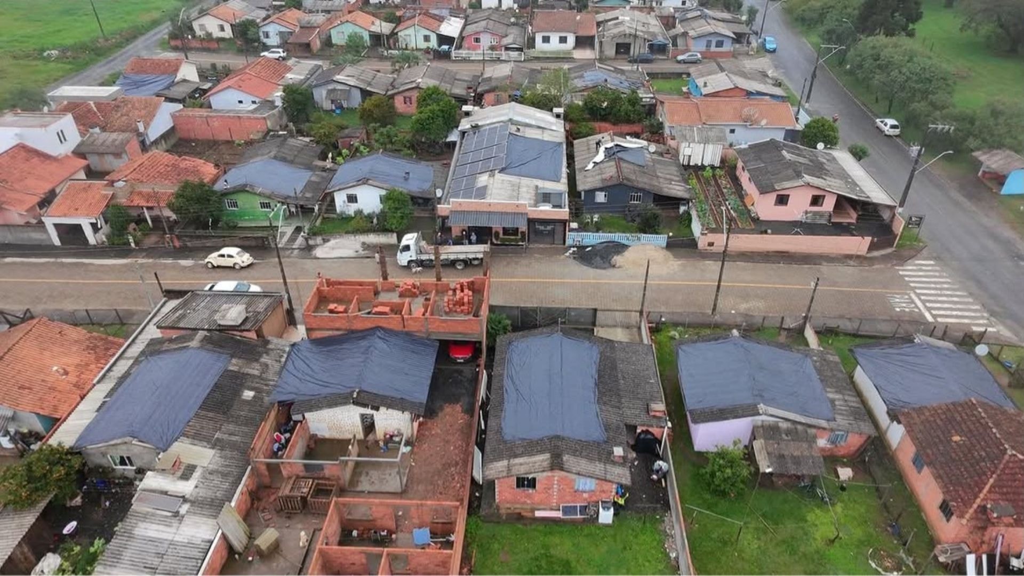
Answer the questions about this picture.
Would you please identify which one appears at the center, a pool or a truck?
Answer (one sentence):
What appears at the center is a truck.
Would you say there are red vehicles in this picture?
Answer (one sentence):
Yes, the image includes a red vehicle.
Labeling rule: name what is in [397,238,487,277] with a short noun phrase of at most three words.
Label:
truck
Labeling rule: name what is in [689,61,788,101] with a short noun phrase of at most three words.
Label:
house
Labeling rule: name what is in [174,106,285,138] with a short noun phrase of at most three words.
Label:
building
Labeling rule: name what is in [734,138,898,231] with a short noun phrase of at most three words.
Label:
house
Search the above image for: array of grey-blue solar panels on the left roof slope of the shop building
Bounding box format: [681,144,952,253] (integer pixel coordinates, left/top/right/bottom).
[451,123,509,198]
